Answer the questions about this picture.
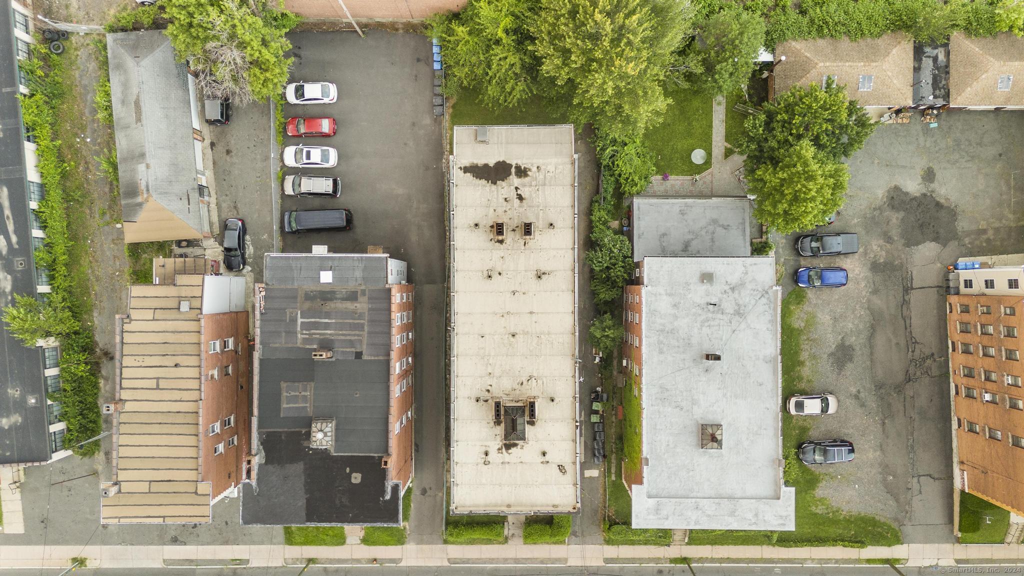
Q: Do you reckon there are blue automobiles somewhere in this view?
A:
Yes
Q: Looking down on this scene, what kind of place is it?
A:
industrial area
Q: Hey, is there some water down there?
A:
No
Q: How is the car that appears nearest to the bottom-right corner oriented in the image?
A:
from side to side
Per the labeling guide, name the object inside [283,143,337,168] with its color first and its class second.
white car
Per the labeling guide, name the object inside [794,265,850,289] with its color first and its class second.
blue car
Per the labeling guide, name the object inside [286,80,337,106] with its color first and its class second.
white car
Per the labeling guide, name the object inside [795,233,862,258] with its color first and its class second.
gray truck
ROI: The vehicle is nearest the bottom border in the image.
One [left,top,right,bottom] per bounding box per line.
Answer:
[798,438,857,467]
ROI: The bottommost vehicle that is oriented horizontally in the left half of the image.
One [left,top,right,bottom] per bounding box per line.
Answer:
[283,207,352,234]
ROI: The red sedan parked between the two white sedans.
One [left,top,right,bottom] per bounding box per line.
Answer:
[286,114,336,139]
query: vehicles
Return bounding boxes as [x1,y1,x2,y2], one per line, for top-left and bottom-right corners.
[794,265,850,289]
[787,392,839,417]
[795,233,862,258]
[283,143,337,168]
[798,438,857,467]
[204,82,230,124]
[283,207,352,234]
[286,80,337,106]
[283,173,340,198]
[286,114,336,139]
[221,218,249,271]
